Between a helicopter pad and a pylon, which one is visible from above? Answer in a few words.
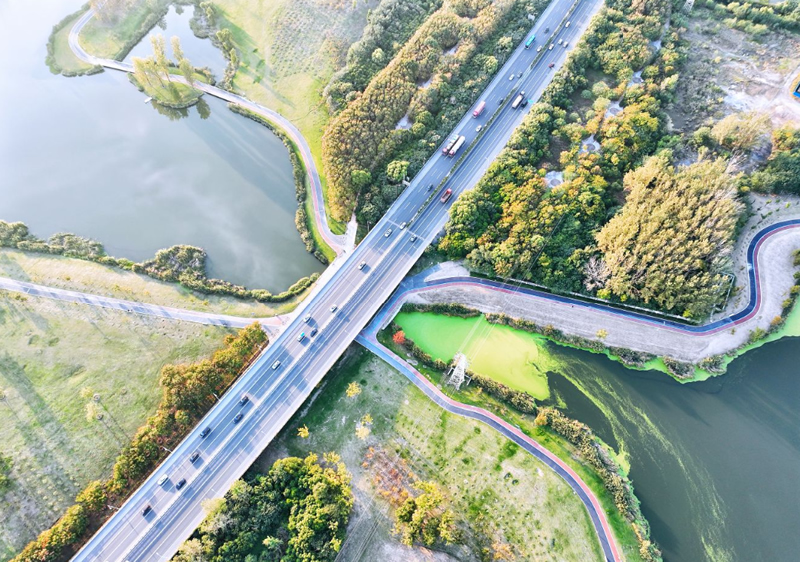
pylon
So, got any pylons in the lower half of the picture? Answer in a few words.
Yes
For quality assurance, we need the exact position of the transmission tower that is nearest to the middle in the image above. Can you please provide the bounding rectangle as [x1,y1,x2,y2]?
[445,352,474,393]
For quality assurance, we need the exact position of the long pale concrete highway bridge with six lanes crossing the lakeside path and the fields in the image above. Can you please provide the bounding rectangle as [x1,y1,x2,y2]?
[62,217,430,562]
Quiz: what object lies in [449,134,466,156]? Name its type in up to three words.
vehicle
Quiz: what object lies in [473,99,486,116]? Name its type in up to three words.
vehicle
